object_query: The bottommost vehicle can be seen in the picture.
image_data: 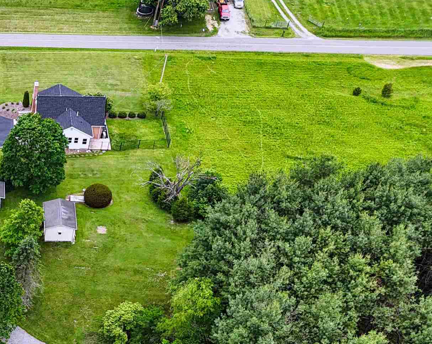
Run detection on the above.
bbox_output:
[214,12,230,25]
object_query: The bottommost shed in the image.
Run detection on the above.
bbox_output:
[44,198,76,244]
